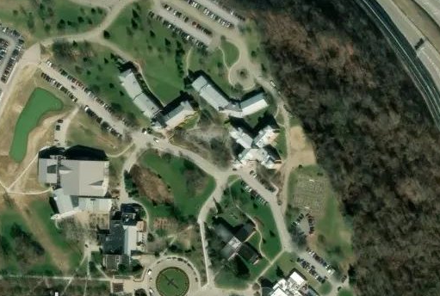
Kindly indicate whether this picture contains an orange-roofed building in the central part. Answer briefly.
No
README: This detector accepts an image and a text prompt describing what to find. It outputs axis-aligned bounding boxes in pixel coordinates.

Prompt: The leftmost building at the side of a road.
[38,159,116,219]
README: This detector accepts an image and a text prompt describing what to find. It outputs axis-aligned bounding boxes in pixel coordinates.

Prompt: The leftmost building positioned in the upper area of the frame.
[120,70,201,130]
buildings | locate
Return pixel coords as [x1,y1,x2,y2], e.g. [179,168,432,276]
[214,222,266,266]
[38,159,116,219]
[103,208,146,271]
[271,272,312,296]
[229,126,287,172]
[120,70,201,130]
[192,76,273,118]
